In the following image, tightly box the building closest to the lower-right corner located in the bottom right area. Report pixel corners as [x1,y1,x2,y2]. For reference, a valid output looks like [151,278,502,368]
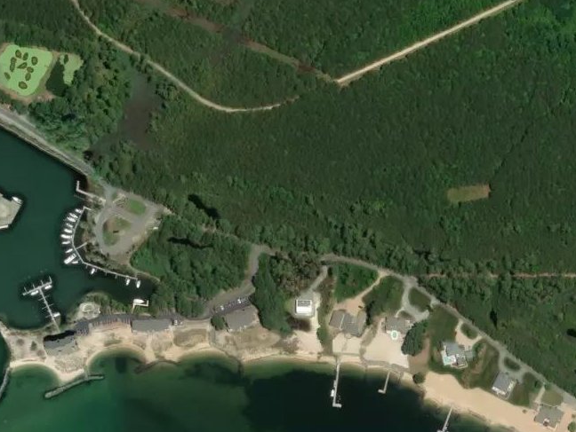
[533,404,564,431]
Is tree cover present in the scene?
Yes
